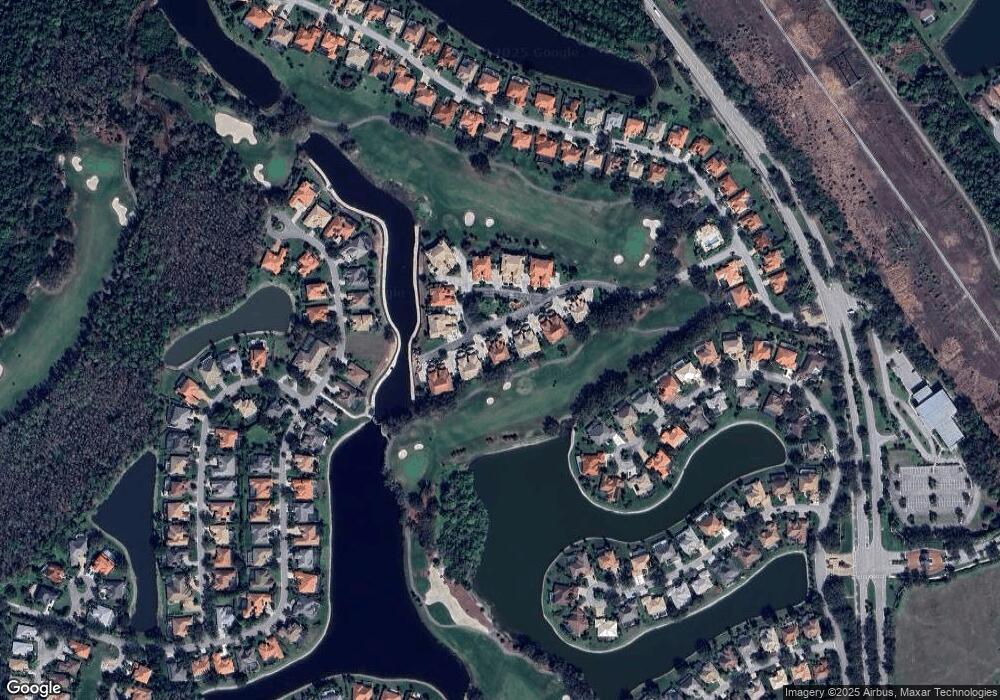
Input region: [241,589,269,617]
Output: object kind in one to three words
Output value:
house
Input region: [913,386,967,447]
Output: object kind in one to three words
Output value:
building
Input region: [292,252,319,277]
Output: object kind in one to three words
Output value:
house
